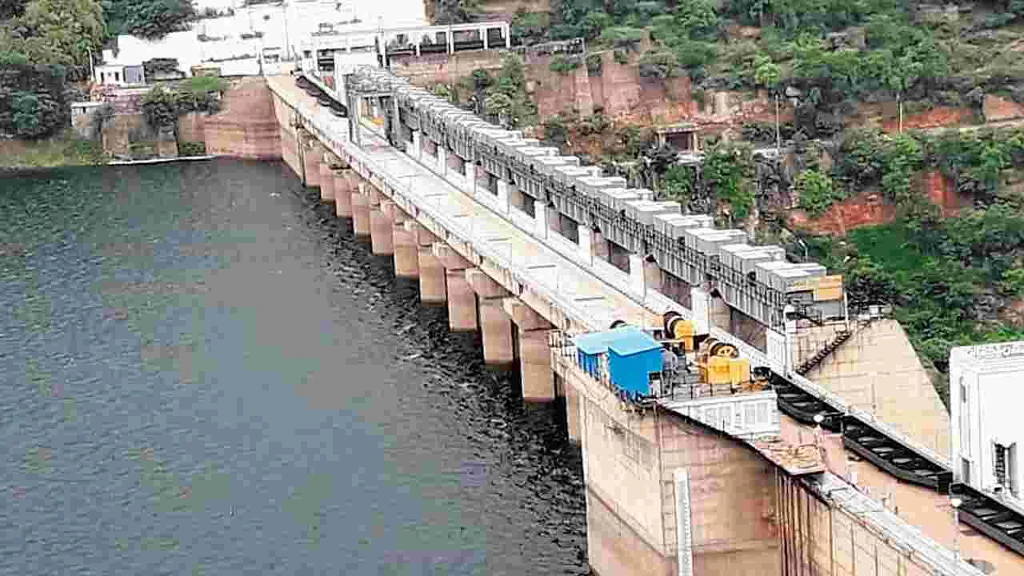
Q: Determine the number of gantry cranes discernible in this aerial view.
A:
one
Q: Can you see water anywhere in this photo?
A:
Yes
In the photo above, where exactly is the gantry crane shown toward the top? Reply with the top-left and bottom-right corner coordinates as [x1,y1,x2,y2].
[342,68,397,145]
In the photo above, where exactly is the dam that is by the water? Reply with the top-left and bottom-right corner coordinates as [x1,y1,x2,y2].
[251,65,1024,576]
